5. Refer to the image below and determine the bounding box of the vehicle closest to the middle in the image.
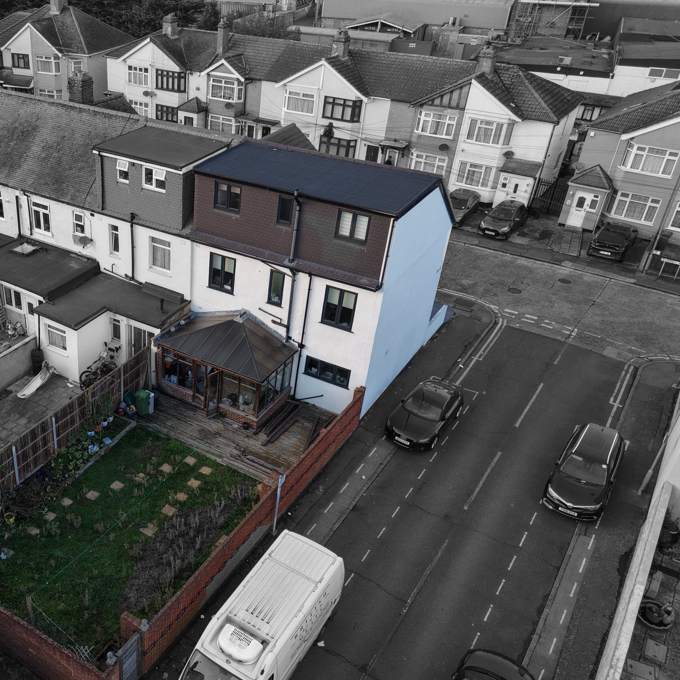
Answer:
[382,375,467,455]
